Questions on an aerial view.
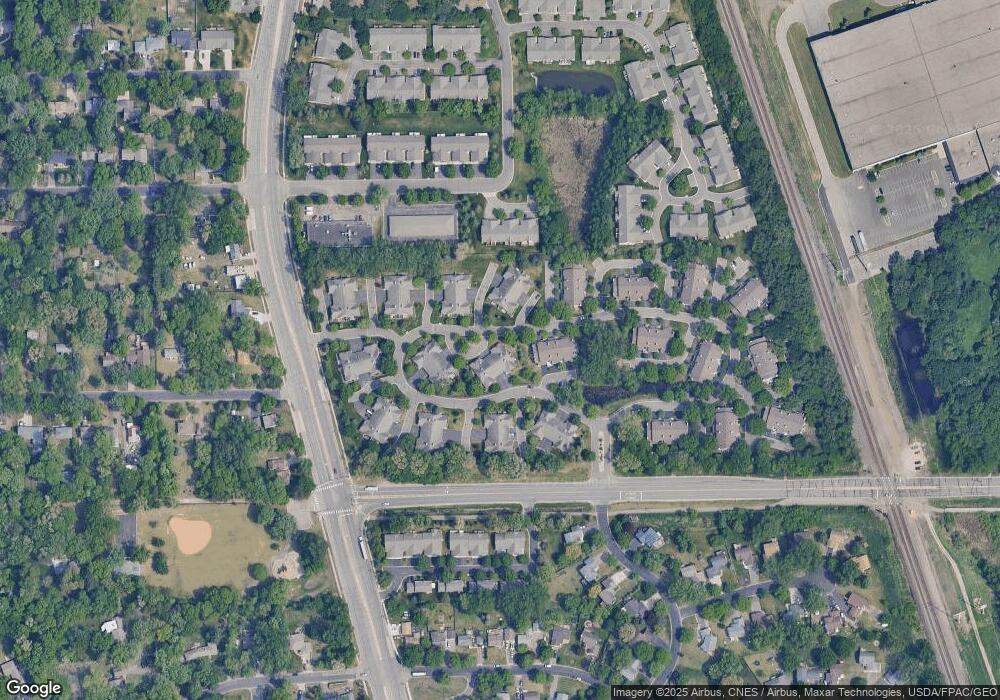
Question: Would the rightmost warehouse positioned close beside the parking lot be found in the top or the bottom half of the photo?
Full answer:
The top half of the photo is where the rightmost warehouse positioned close beside the parking lot is.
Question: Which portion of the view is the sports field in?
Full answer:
The sports field appears toward the bottom left of the photo.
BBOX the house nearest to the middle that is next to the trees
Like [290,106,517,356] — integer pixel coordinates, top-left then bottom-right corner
[468,339,518,390]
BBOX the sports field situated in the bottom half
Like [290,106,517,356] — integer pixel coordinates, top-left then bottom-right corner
[141,504,271,590]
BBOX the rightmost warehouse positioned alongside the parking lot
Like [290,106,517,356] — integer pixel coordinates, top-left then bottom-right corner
[810,0,1000,182]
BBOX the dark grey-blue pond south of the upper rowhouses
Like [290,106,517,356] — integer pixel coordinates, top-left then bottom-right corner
[536,70,616,97]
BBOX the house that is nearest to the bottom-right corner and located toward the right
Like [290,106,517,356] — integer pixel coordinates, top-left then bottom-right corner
[882,670,909,692]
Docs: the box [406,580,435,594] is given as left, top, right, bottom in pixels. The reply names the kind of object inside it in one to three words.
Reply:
building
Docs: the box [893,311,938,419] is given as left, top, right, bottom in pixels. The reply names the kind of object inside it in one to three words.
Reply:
pond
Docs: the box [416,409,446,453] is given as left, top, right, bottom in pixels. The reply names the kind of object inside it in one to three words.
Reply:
house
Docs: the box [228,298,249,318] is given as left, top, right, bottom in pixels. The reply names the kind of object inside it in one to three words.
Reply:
house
